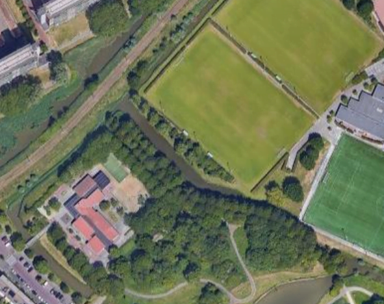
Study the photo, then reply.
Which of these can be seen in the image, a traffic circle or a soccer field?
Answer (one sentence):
It is a soccer field that can be seen here.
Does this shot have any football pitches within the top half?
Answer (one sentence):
Yes, there is a football pitch within the top half.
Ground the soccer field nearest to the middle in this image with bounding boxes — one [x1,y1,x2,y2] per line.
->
[147,31,313,190]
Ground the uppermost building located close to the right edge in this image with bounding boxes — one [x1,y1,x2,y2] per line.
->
[335,84,384,139]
